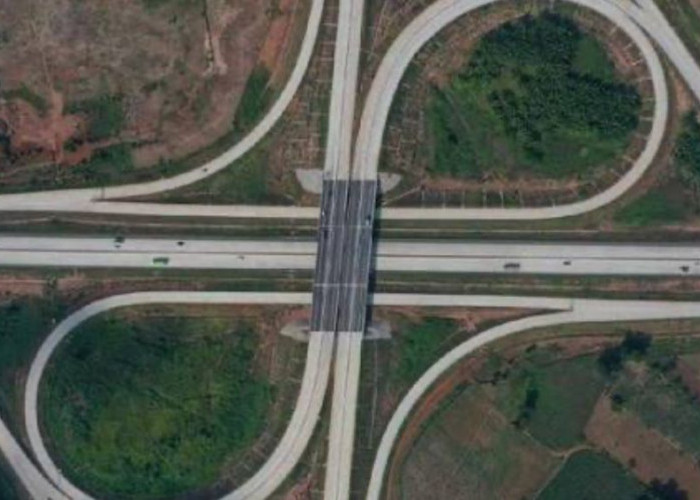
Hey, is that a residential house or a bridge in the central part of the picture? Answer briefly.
bridge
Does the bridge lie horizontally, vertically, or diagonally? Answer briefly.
vertically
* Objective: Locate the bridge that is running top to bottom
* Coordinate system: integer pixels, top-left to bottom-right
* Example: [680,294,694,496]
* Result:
[310,179,377,334]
